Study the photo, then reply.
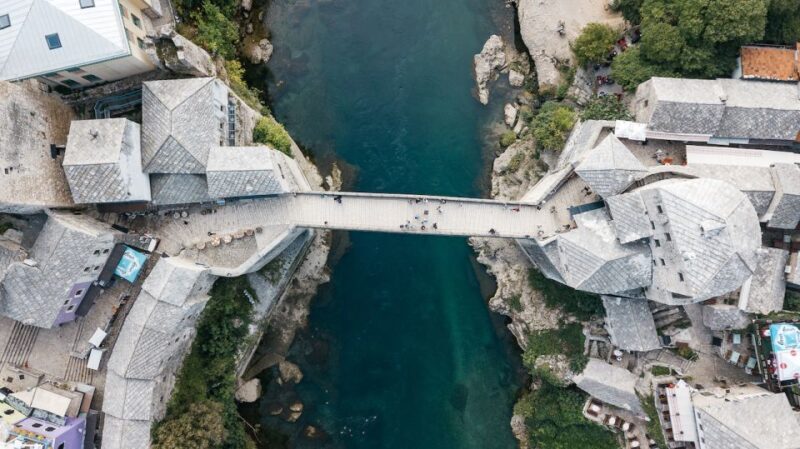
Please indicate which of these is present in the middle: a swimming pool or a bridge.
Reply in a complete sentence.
It is a bridge that can be seen in the middle.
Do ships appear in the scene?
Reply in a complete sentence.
No, the frame has no ship in it.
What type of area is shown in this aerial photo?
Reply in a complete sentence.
What you see here is a residential area.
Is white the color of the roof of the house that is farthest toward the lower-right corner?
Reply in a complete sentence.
Yes, the roof of the house that is farthest toward the lower-right corner is indeed white.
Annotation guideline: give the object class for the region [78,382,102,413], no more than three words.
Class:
shed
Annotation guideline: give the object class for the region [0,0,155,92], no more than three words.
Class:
building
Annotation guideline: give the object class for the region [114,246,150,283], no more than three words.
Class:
umbrella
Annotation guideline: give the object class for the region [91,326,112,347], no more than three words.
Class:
umbrella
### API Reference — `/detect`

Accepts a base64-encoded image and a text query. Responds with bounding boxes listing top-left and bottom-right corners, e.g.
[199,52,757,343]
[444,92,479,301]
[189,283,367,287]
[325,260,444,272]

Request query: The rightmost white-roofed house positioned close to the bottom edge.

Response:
[685,382,800,449]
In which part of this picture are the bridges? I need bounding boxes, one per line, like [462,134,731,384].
[293,192,539,238]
